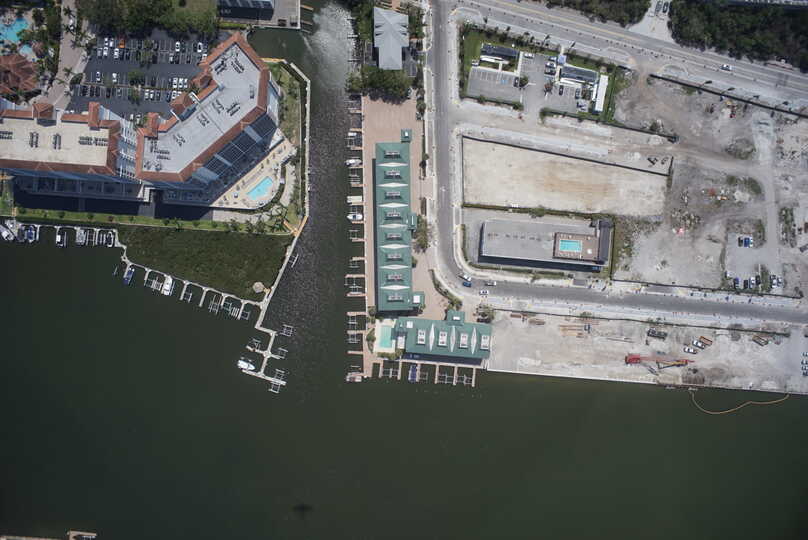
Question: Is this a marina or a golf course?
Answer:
marina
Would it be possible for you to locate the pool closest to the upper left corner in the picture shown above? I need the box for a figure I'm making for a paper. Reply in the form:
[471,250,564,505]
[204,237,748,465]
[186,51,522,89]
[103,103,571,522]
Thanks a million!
[0,17,30,44]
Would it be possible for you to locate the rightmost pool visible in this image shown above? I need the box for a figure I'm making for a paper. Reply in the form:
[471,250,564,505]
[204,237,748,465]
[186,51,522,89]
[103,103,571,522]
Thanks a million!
[559,240,582,253]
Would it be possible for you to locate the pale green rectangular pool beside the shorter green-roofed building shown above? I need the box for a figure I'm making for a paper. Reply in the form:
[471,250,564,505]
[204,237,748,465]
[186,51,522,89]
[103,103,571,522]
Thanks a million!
[375,320,398,353]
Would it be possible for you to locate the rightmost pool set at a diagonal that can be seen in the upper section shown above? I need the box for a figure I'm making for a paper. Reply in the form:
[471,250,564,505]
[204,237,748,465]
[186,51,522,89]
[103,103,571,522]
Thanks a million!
[245,176,275,201]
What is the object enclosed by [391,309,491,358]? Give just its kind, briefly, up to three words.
building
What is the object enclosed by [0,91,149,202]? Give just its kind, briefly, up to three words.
building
